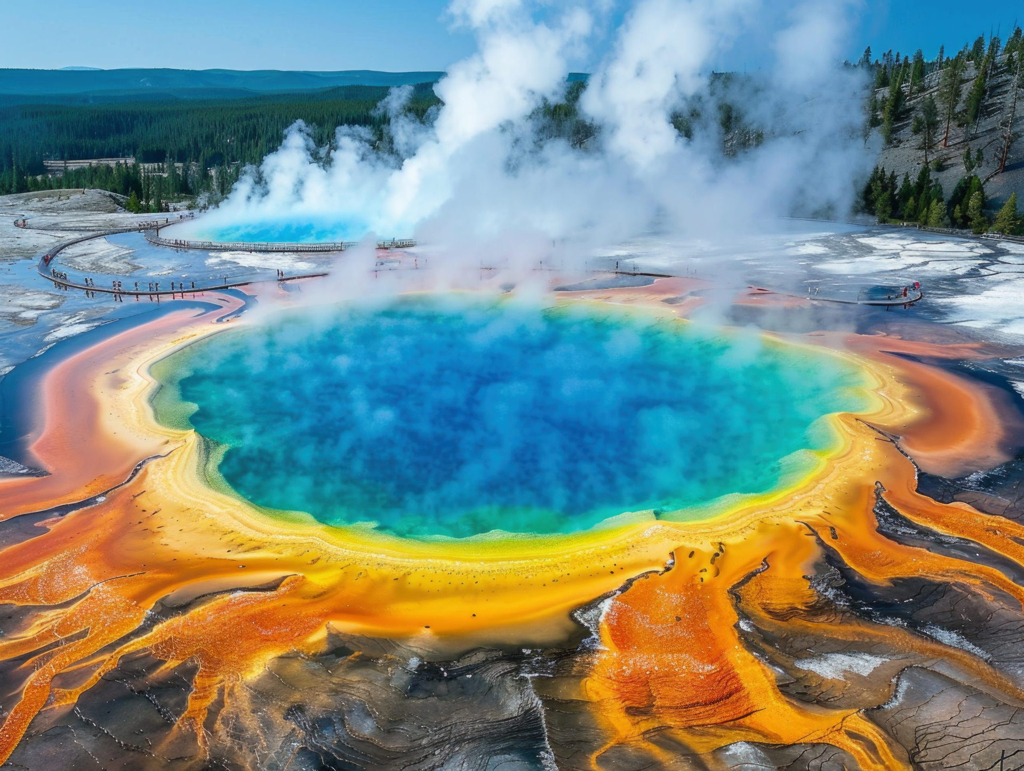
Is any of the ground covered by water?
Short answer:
Yes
